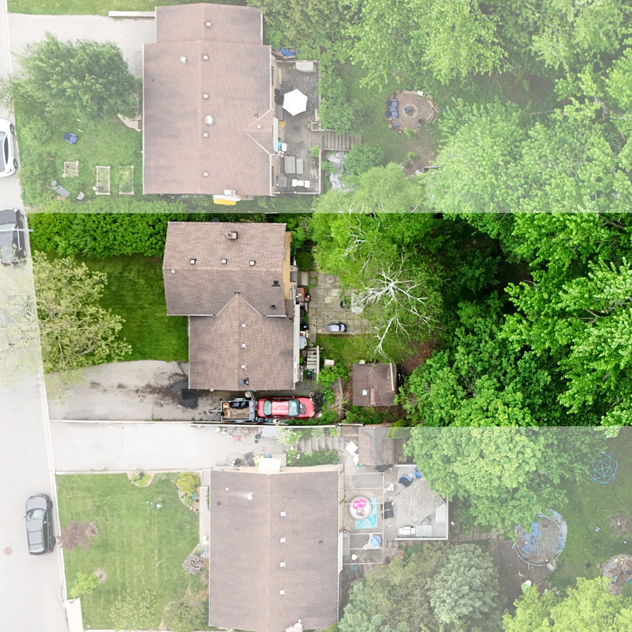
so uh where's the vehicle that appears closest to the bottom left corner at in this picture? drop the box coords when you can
[22,494,60,558]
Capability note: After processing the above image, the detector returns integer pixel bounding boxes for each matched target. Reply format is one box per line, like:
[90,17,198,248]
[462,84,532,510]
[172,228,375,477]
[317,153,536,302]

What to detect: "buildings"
[136,0,282,201]
[162,221,302,393]
[352,362,397,406]
[209,459,351,632]
[358,424,396,465]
